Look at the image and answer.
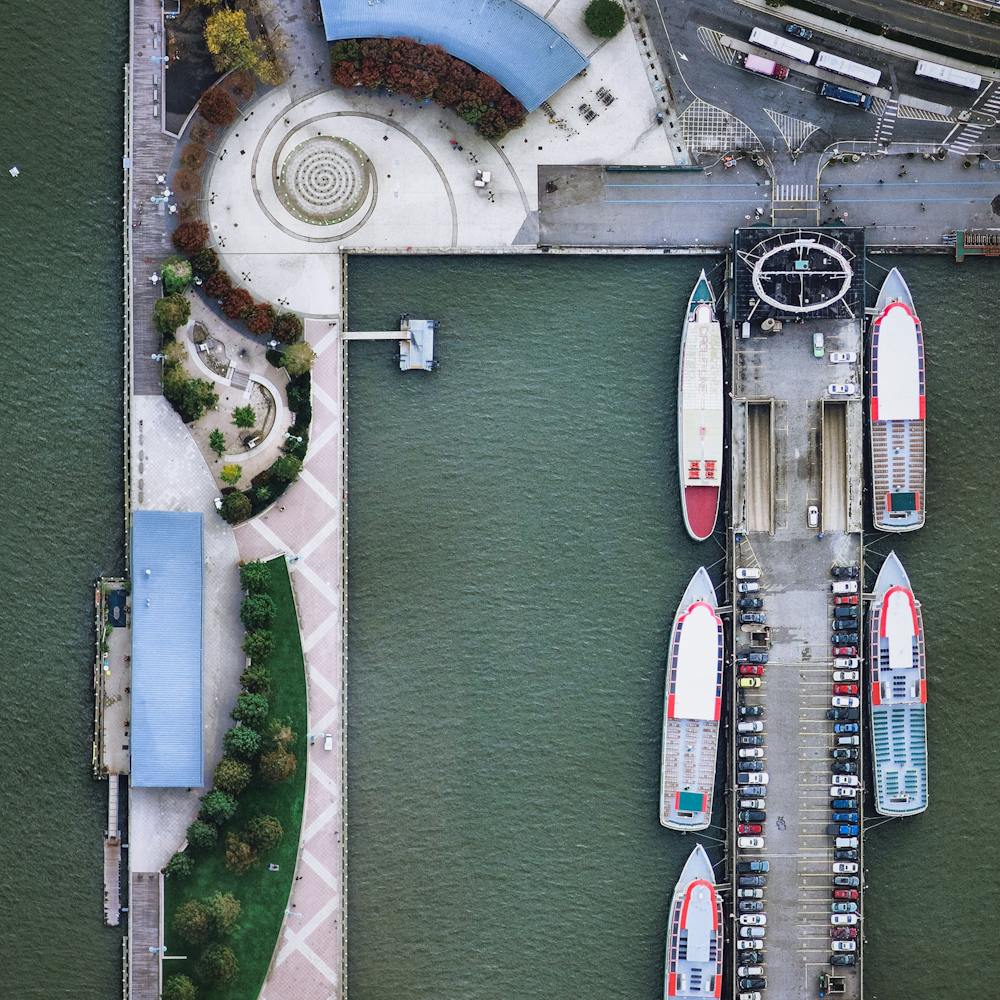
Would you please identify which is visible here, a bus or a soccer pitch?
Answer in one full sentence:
The image shows a bus.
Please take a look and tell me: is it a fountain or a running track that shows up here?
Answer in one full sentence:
Visible in the photo is a fountain.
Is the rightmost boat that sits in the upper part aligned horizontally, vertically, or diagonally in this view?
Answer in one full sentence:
What the image shows is the rightmost boat that sits in the upper part lying vertically.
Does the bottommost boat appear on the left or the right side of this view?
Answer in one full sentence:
The bottommost boat sits on the right side.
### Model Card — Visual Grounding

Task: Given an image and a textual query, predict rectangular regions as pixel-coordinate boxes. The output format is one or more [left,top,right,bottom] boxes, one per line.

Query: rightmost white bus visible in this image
[912,61,981,92]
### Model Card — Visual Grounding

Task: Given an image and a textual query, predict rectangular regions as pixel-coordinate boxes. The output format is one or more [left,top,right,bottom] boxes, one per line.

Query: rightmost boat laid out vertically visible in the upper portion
[867,267,926,533]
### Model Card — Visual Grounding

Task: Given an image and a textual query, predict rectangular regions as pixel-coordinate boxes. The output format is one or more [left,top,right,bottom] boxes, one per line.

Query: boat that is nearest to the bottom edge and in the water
[665,845,723,1000]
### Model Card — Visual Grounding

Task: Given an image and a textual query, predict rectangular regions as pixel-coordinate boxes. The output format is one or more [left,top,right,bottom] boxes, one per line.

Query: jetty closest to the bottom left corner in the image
[104,837,129,925]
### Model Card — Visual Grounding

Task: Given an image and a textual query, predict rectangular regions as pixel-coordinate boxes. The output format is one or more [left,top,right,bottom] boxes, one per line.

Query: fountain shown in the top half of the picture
[276,134,370,227]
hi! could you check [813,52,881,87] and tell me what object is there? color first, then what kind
white bus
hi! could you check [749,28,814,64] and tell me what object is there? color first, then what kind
white bus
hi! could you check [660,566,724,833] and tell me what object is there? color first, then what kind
white boat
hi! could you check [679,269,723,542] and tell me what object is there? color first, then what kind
white boat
